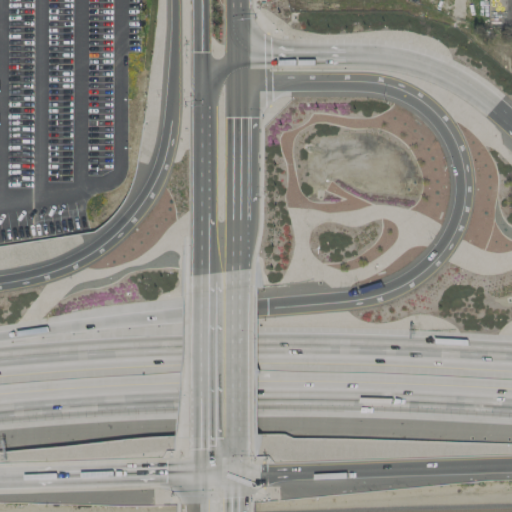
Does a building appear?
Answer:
No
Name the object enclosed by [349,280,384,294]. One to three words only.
vehicle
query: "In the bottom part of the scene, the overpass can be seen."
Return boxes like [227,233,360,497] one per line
[176,266,258,454]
